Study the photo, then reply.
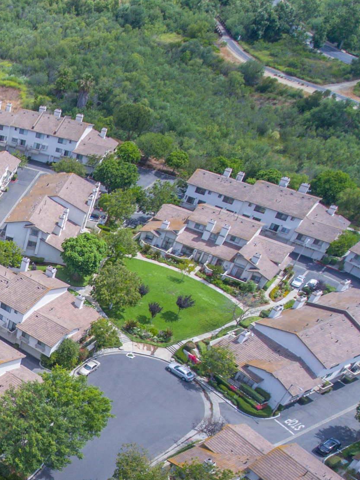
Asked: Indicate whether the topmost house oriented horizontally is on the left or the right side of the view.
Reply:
left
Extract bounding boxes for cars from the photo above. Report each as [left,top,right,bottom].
[304,276,321,287]
[78,359,100,375]
[165,365,196,382]
[314,437,340,456]
[291,273,306,287]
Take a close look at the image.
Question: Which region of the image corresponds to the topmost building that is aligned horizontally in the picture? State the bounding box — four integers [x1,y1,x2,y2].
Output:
[0,101,127,175]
